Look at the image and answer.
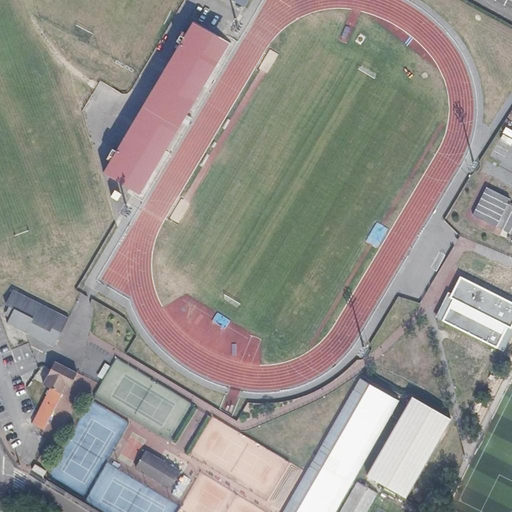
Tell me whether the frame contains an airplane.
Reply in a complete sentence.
No, the scene contains no airplane.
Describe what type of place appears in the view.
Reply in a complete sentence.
This image shows a sports ground.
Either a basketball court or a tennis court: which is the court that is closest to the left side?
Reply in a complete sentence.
The court that is closest to the left side is a tennis court.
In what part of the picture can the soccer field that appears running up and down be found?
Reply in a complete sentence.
The soccer field that appears running up and down is in the bottom right part of the image.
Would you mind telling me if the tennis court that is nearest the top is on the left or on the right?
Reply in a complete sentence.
The tennis court that is nearest the top is on the left side of the image.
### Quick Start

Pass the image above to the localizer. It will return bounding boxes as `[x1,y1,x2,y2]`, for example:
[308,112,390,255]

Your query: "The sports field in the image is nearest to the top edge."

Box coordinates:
[152,8,449,364]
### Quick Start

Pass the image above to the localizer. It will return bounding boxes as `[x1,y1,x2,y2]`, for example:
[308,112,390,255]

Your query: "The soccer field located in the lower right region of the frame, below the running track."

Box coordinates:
[449,382,512,512]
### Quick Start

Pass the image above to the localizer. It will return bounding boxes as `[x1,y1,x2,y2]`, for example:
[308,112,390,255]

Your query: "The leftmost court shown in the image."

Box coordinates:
[48,402,127,496]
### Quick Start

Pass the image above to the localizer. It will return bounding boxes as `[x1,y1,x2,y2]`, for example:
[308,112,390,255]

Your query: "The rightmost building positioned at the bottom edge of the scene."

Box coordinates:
[368,398,450,498]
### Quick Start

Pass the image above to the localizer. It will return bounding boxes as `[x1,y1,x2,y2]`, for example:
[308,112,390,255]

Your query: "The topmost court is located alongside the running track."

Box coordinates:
[95,357,193,440]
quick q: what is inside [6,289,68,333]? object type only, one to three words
building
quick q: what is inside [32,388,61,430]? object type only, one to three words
shed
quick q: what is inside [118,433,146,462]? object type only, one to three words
sports court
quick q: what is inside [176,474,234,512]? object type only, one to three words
tennis court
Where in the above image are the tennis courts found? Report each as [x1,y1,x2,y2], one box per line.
[226,495,267,512]
[176,474,234,512]
[190,418,290,499]
[87,462,178,512]
[48,402,127,496]
[95,357,193,440]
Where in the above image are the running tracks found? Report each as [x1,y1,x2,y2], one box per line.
[100,0,474,390]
